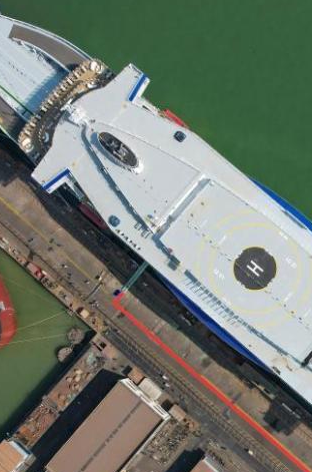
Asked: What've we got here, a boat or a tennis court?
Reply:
boat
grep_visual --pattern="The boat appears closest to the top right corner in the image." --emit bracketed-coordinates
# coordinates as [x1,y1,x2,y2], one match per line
[158,107,185,127]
